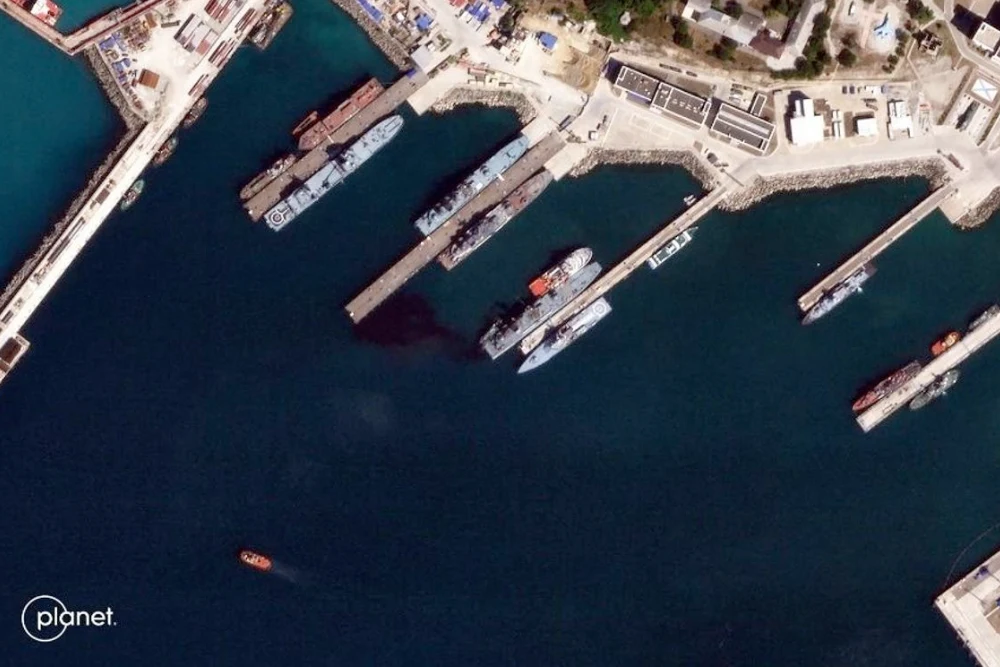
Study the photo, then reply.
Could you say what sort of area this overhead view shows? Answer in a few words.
port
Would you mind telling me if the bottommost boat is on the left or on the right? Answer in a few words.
left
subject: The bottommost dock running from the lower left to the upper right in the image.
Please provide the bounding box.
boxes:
[855,313,1000,433]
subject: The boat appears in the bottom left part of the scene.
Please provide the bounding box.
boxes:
[239,552,272,572]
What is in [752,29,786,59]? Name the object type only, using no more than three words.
house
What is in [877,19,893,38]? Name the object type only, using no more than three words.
airplane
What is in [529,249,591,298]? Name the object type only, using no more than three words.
ship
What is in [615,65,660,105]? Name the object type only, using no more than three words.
building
